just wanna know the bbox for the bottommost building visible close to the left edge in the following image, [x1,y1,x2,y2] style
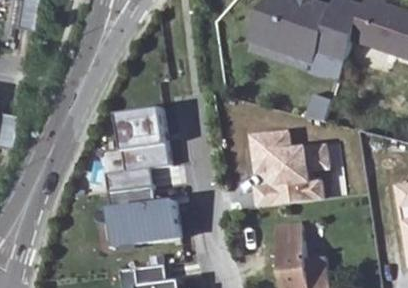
[0,114,18,148]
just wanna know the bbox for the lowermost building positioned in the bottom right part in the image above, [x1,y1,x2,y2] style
[310,267,333,288]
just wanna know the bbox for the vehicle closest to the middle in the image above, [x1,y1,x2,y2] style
[238,172,262,190]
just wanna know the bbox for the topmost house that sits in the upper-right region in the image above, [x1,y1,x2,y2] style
[247,0,408,79]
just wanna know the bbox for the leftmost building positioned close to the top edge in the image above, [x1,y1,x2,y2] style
[12,0,40,30]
